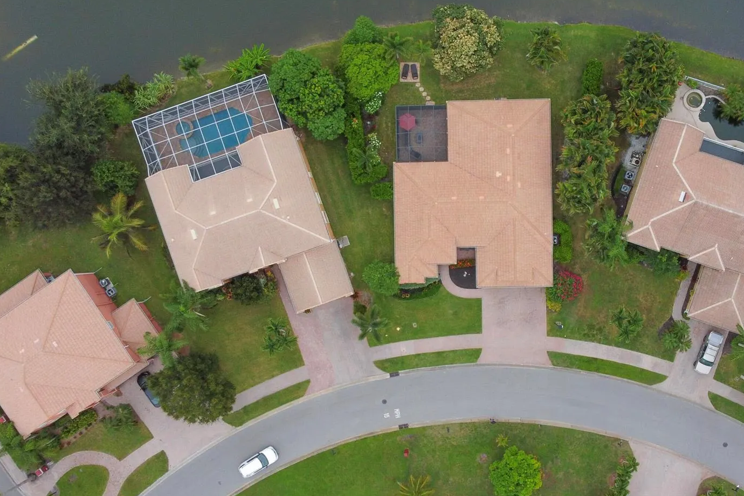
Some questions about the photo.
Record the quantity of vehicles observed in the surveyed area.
three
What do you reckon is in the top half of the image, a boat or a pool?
pool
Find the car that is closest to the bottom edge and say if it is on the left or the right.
left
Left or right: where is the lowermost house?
left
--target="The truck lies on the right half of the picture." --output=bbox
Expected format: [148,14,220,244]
[693,330,725,374]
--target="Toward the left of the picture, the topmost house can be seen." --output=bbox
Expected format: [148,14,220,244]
[144,127,355,315]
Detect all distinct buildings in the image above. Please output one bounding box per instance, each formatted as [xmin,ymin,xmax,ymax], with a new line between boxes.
[392,98,554,289]
[0,267,171,440]
[144,127,355,315]
[623,118,744,332]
